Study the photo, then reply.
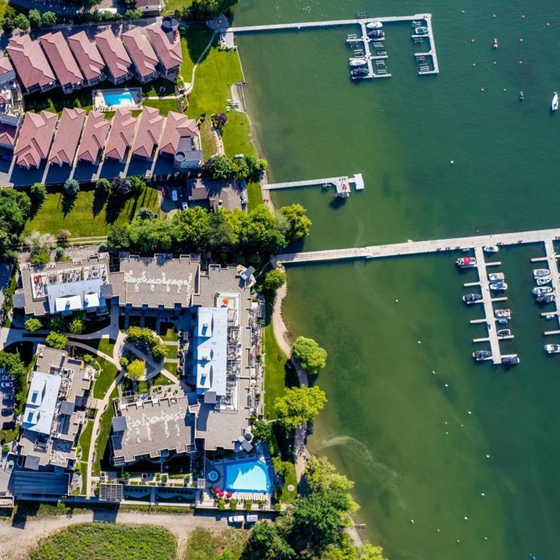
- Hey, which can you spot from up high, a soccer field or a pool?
pool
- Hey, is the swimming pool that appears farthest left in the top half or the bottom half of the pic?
top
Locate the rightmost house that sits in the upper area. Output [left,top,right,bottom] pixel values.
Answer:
[209,183,242,216]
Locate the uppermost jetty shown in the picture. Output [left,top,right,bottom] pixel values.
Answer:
[228,12,439,79]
